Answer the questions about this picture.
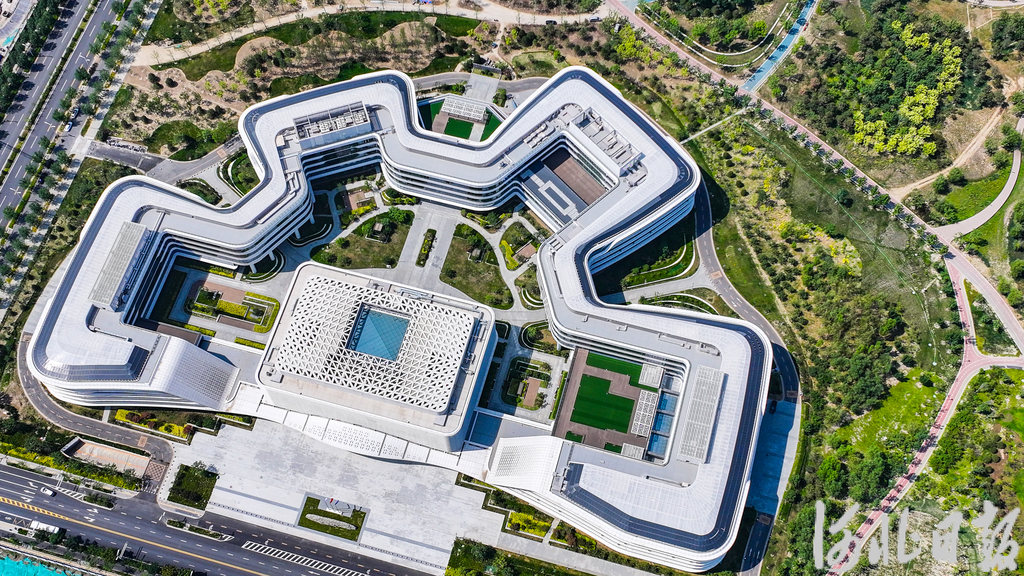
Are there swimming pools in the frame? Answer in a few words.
No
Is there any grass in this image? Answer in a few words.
Yes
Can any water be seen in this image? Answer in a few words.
No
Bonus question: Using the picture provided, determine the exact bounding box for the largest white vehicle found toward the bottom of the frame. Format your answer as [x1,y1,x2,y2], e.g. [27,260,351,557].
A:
[28,518,60,533]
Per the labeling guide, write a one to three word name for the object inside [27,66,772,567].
building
